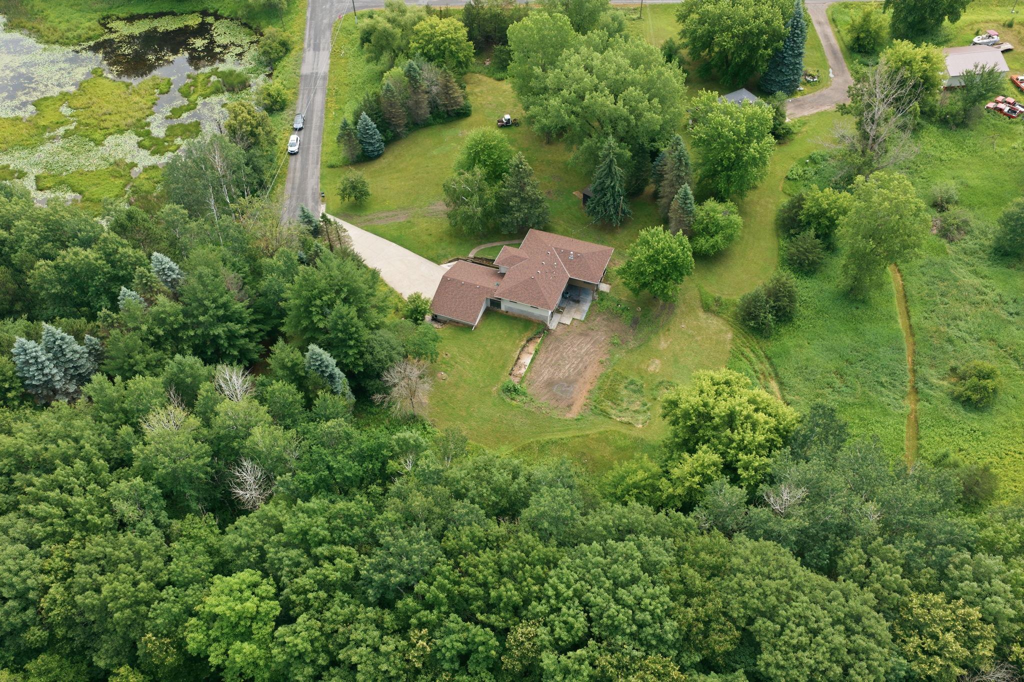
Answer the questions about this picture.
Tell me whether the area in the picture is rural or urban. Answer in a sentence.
The area is rural.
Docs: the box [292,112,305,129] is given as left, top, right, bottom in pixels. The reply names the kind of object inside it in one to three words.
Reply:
vehicle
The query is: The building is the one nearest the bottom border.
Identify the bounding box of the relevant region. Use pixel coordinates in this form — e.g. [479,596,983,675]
[431,228,614,334]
